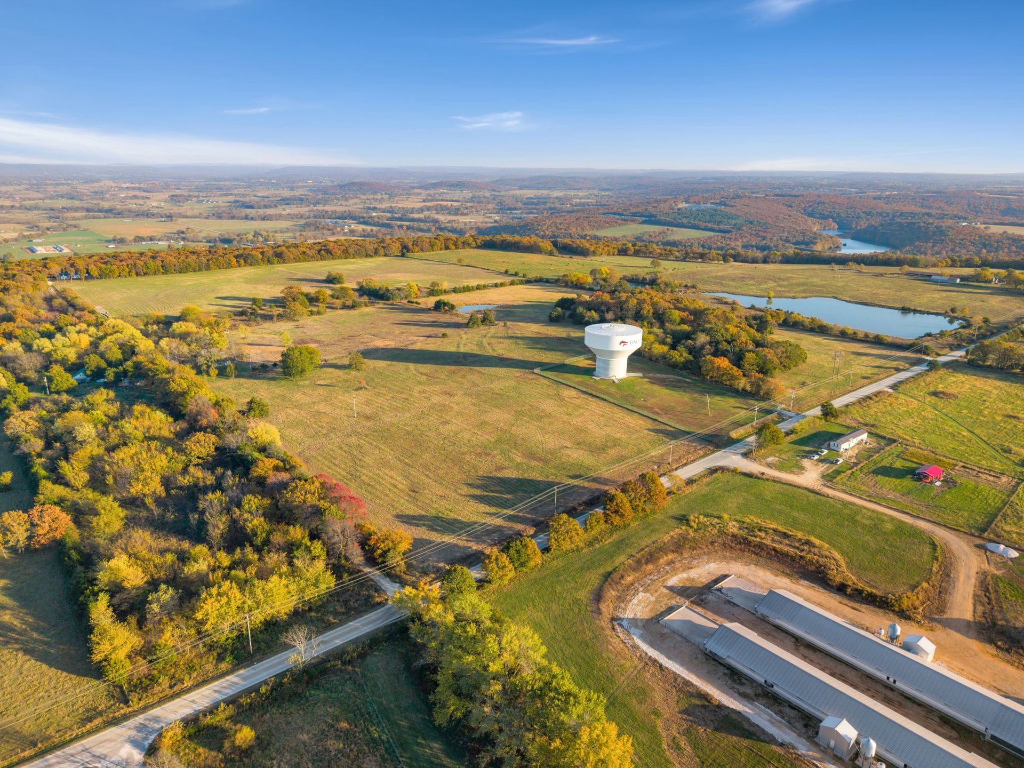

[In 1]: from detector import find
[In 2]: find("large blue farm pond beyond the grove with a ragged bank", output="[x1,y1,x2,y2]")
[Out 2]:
[707,293,957,339]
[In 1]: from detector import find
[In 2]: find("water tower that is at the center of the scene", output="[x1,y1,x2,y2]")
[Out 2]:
[584,326,641,380]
